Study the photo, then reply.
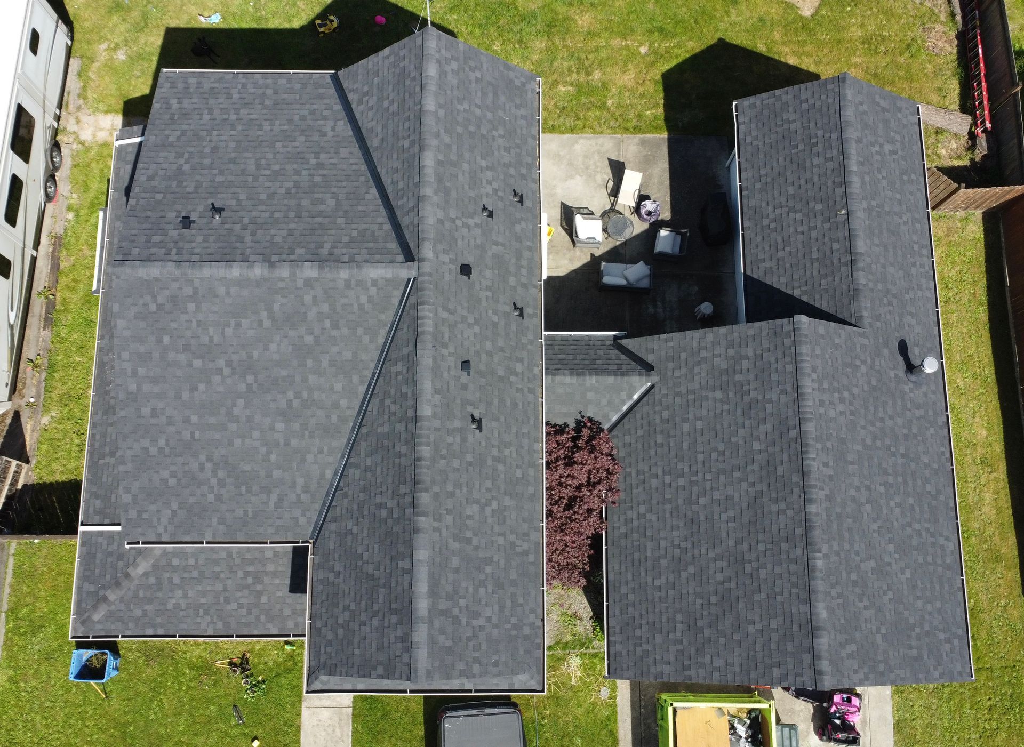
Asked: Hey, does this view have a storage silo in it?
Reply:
No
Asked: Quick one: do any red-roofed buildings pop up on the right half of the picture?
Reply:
No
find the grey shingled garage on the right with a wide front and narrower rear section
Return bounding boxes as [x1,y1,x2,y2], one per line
[601,78,973,688]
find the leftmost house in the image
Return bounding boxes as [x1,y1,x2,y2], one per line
[67,0,546,695]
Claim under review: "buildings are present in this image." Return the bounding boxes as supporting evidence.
[67,0,546,695]
[601,78,973,688]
